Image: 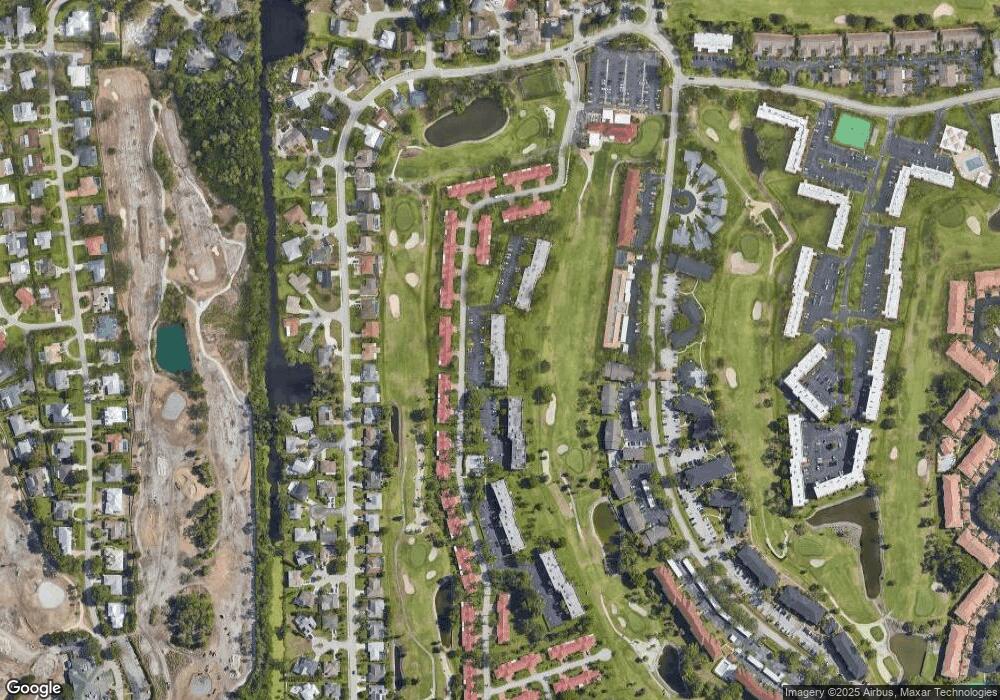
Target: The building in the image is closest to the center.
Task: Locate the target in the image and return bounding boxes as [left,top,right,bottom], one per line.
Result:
[490,313,510,387]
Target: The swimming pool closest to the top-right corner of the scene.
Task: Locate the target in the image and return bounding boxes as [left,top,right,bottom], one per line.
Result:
[954,146,992,181]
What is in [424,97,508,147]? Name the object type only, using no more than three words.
pond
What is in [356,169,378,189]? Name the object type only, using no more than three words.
house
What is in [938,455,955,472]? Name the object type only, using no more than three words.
swimming pool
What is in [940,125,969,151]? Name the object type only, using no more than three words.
building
